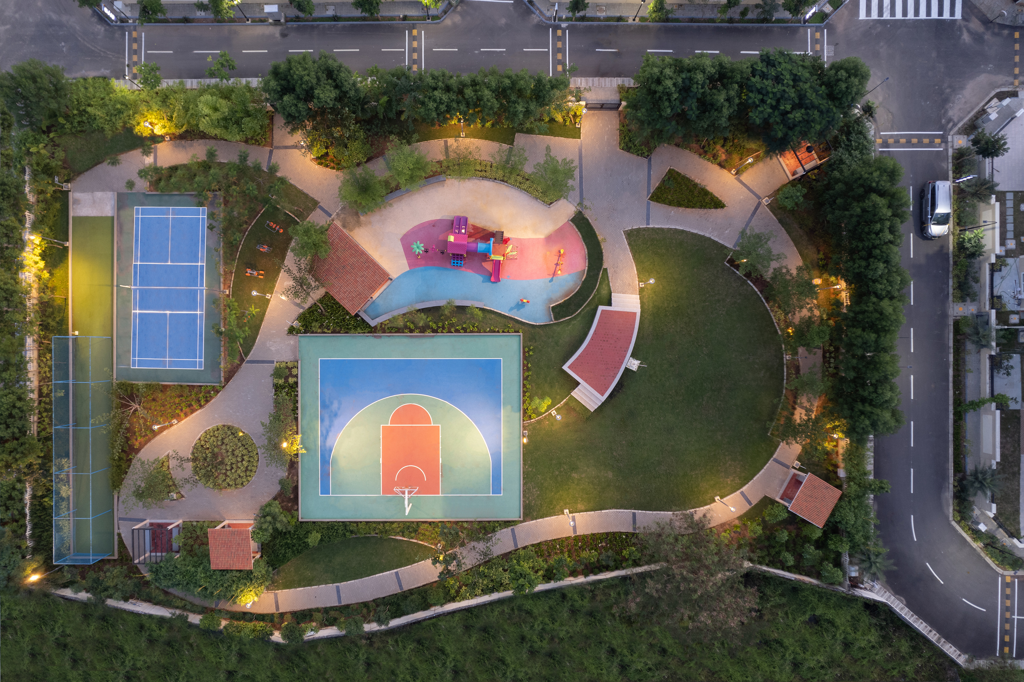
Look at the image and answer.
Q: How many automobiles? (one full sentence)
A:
The photo contains exactly 1 automobile.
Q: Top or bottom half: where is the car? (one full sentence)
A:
It is in the top half that the car appears.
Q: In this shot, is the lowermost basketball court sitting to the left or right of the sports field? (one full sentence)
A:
Looking at the picture, you'll find the lowermost basketball court to the right of the sports field.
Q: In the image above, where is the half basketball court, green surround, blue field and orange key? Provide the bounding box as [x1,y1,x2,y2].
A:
[298,334,523,521]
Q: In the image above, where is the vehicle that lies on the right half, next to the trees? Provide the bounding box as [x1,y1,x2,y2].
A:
[921,180,955,240]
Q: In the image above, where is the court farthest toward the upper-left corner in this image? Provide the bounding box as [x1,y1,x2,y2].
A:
[118,192,225,385]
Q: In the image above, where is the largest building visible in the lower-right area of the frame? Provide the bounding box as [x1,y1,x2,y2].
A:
[774,467,842,529]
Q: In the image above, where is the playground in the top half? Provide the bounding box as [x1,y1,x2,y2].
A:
[332,177,585,322]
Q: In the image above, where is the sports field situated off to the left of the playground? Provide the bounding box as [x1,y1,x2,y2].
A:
[68,191,120,559]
